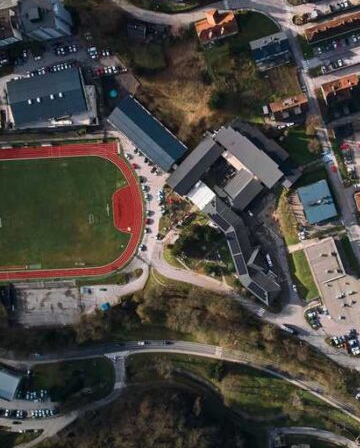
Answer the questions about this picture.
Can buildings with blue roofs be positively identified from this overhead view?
Yes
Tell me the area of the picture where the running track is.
left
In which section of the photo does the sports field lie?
left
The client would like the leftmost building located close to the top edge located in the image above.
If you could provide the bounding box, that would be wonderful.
[0,9,29,52]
